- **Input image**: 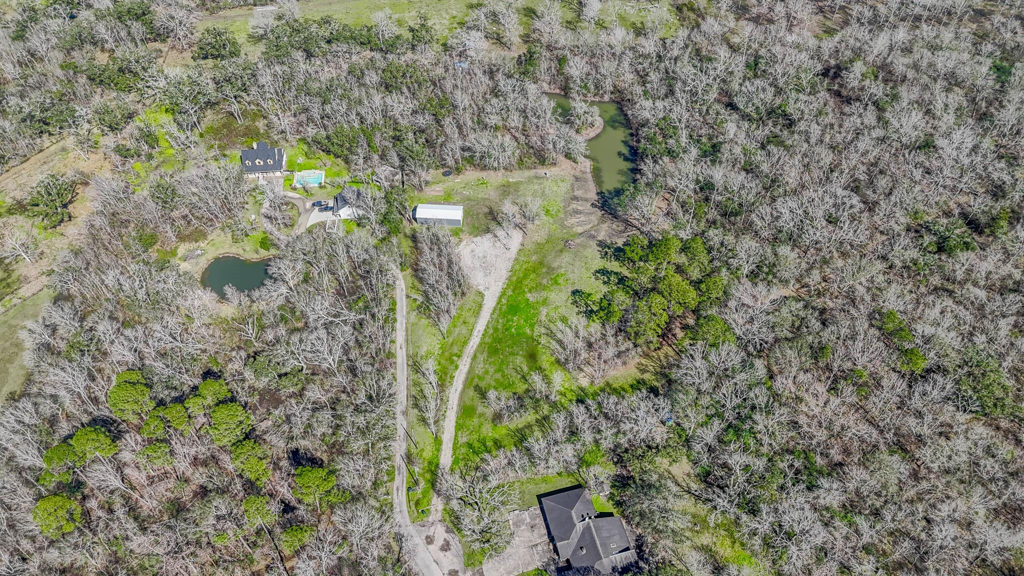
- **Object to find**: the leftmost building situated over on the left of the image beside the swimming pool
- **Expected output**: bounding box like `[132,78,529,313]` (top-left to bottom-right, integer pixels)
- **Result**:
[243,138,289,182]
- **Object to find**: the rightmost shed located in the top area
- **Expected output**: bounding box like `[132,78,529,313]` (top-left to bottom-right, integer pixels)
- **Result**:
[416,204,464,227]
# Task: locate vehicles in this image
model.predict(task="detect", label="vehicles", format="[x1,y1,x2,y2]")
[311,199,329,207]
[316,204,334,212]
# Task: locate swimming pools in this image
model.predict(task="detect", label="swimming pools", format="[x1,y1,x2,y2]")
[293,171,326,188]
